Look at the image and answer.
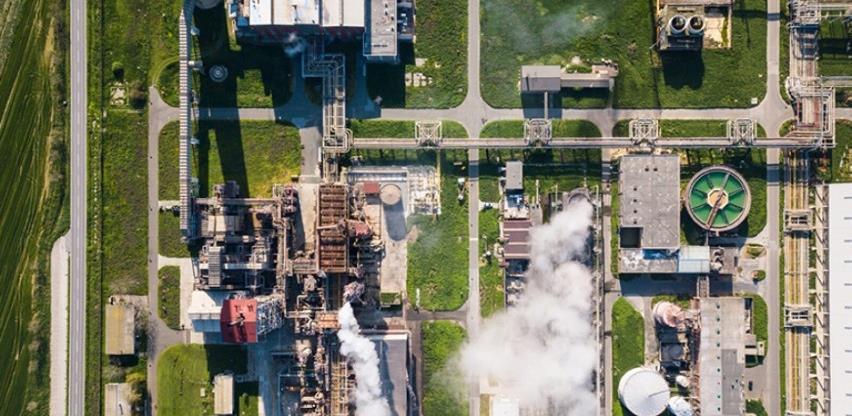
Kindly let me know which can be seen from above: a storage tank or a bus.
storage tank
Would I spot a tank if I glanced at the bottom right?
Yes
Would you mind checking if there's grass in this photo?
Yes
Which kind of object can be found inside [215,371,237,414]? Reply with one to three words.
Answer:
shed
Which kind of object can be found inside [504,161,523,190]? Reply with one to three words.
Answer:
building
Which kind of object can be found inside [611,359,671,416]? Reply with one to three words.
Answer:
storage tank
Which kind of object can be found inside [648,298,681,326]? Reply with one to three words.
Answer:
storage tank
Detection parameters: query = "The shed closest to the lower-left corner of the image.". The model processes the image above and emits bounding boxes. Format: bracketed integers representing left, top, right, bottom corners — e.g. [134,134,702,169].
[105,382,133,416]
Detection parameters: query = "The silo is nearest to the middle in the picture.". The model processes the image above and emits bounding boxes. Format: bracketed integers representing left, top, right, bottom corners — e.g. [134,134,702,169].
[380,184,403,206]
